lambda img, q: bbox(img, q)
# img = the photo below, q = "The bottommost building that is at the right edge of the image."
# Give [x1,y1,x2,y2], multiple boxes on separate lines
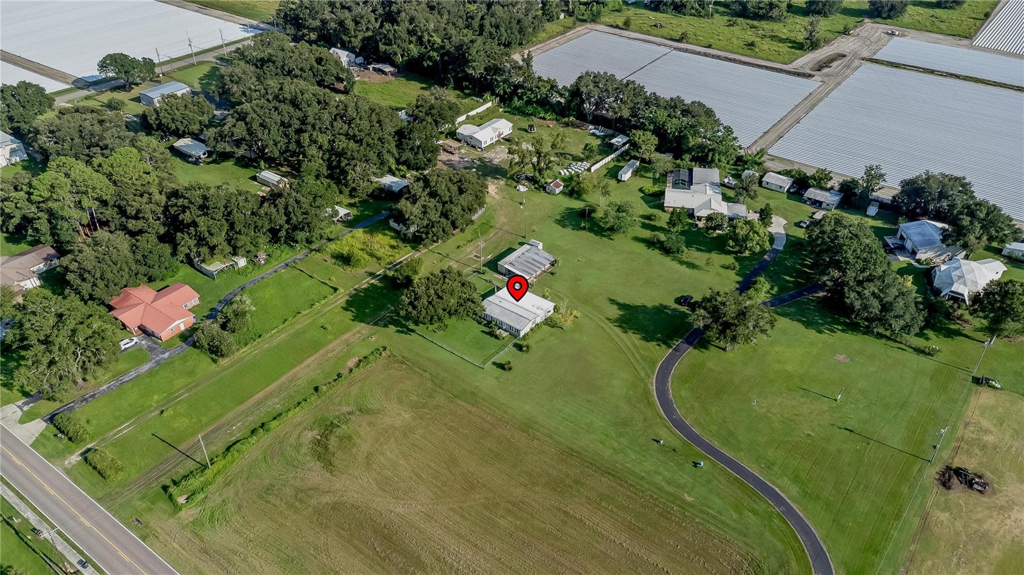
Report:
[925,253,1015,304]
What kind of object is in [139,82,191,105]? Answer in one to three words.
building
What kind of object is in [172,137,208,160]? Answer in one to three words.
house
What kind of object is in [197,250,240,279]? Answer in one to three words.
shed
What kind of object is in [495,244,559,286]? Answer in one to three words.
barn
